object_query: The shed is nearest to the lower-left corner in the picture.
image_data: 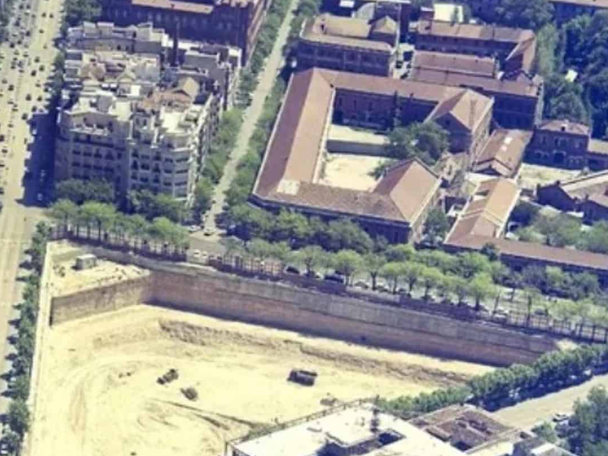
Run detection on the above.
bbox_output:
[74,252,99,269]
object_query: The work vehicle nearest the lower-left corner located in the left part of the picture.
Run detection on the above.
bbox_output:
[146,362,181,380]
